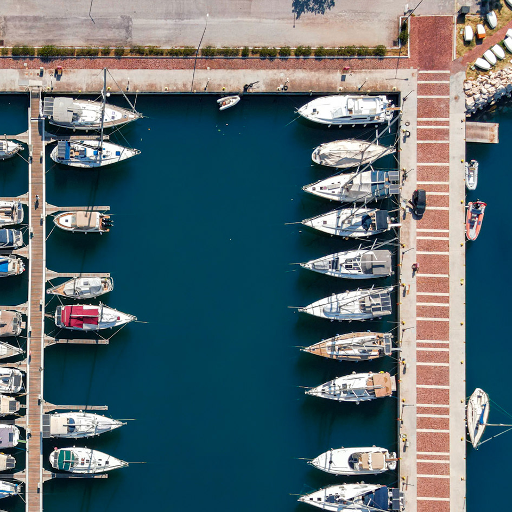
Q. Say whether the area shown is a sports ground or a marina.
marina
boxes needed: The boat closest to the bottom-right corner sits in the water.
[465,389,512,461]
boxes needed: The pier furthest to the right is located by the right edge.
[466,121,500,144]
